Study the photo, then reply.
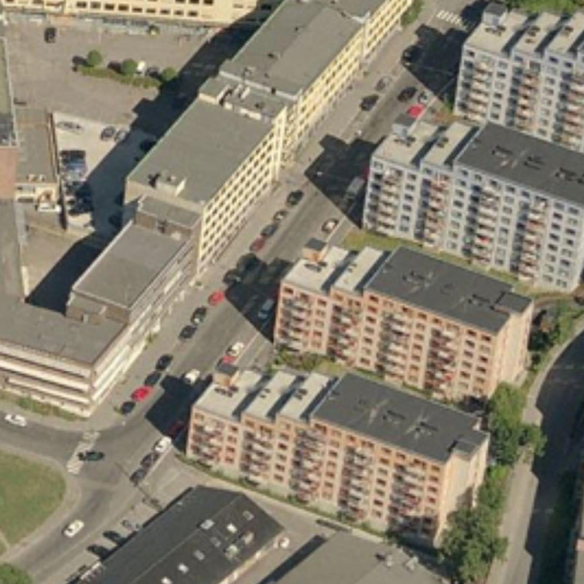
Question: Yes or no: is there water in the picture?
No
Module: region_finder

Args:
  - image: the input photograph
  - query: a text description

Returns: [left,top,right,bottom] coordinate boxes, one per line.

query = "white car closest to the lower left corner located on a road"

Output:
[65,522,83,537]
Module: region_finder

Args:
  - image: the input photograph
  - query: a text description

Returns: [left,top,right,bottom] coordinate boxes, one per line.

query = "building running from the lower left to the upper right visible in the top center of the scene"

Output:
[121,0,412,275]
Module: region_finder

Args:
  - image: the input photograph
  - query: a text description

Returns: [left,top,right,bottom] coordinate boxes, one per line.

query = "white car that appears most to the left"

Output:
[5,414,27,426]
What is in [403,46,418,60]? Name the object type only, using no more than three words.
car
